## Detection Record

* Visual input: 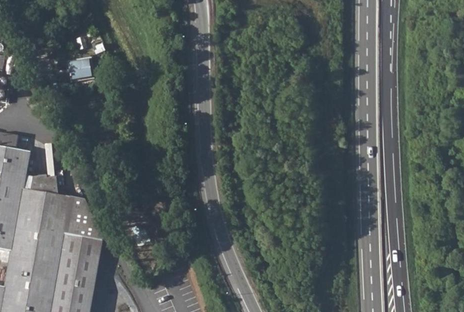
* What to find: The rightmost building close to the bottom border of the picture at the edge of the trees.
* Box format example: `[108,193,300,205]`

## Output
[51,232,104,312]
